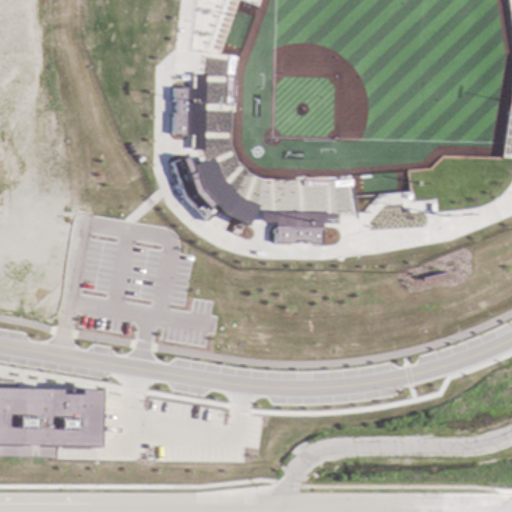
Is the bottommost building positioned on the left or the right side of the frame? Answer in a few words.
left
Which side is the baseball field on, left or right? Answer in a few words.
right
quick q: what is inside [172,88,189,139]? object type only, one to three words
building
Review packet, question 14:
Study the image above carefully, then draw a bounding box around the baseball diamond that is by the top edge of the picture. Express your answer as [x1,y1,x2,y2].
[234,0,512,179]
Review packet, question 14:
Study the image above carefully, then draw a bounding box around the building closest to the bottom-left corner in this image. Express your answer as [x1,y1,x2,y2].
[0,388,104,458]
